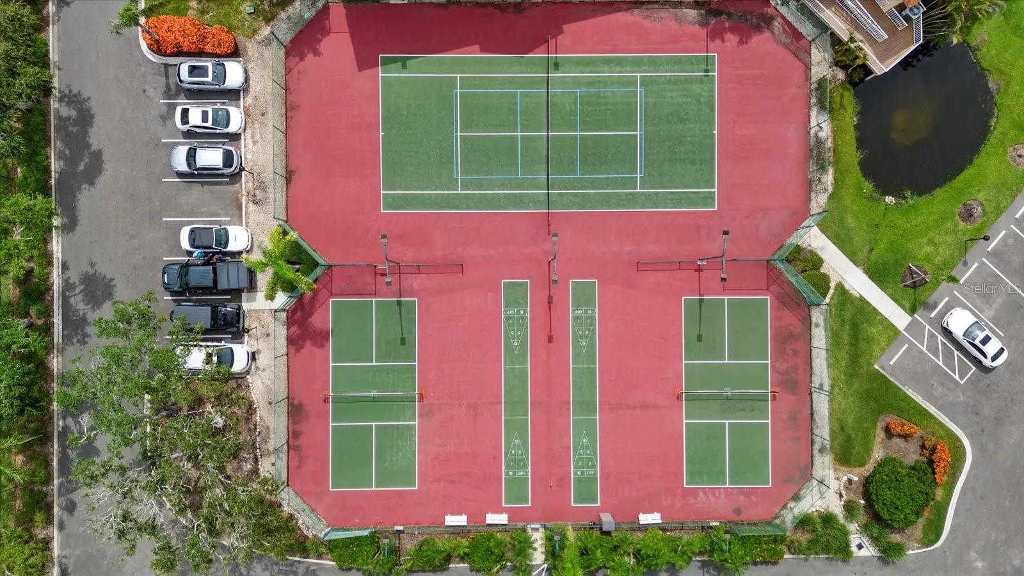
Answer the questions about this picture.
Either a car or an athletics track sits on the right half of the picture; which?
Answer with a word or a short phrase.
car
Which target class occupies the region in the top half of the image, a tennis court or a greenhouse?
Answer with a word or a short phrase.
tennis court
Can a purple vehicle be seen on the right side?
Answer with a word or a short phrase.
No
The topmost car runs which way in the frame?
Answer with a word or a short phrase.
from side to side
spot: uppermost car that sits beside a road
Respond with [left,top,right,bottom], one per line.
[176,57,248,91]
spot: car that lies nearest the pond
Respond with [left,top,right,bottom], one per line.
[941,309,1008,368]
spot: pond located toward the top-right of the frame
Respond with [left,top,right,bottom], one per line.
[854,28,996,197]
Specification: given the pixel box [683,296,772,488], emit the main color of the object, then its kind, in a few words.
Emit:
green sports court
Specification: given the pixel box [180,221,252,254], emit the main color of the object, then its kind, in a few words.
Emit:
white car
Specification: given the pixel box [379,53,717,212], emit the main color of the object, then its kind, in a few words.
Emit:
green tennis court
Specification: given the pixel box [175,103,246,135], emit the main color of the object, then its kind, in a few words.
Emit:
white car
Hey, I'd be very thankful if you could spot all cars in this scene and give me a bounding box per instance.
[180,221,252,254]
[171,142,243,175]
[941,309,1008,368]
[176,57,248,91]
[178,343,252,376]
[175,103,246,135]
[169,302,247,334]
